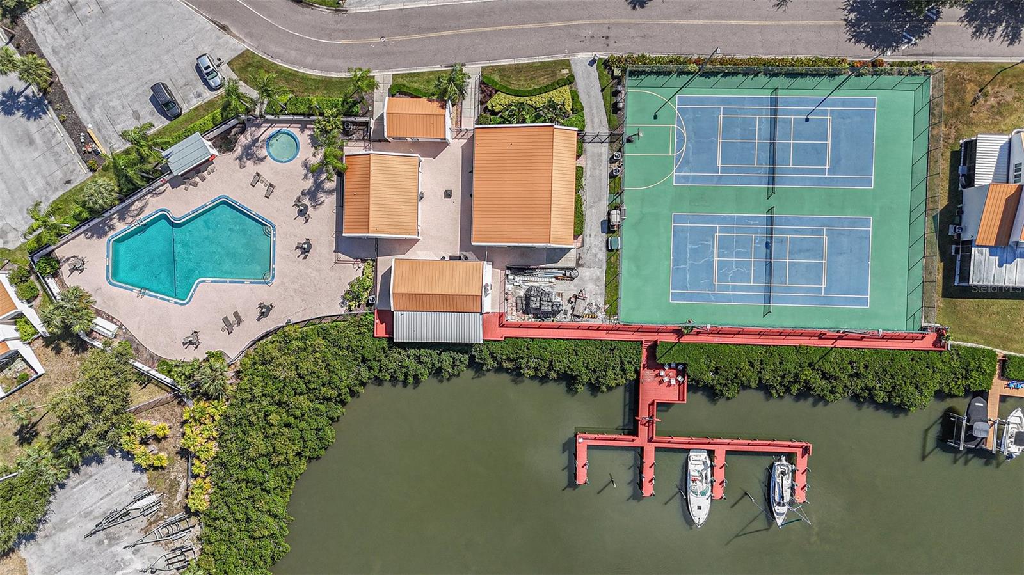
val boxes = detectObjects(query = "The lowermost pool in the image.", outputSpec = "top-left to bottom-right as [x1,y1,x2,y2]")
[106,197,276,305]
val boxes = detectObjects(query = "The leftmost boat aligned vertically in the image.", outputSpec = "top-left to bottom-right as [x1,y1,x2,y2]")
[687,448,713,528]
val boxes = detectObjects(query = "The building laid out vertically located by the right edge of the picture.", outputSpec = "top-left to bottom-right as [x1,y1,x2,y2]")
[952,129,1024,287]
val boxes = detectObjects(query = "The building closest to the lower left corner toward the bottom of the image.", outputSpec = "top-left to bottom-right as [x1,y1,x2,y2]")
[0,339,52,403]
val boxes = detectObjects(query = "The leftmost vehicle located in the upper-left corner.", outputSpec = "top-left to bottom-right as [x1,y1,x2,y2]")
[146,78,183,121]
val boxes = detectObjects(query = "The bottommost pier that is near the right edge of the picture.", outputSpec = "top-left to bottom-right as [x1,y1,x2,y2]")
[982,358,1024,450]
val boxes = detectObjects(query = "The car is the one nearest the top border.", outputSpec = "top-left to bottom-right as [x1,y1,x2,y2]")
[193,50,225,91]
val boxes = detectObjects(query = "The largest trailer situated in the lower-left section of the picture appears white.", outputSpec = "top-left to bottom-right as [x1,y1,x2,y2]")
[79,491,160,540]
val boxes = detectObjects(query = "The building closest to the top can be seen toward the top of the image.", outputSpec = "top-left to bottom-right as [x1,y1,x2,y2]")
[383,97,455,143]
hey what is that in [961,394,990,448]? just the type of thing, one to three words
boat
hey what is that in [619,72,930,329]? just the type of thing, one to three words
basketball court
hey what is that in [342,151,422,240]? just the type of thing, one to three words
building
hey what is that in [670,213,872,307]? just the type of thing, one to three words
tennis court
